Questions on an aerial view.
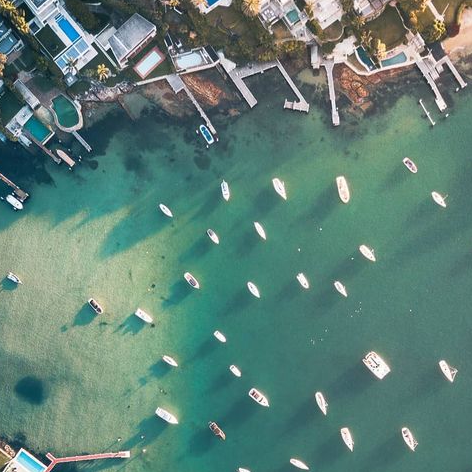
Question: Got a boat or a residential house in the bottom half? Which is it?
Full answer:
You can see a boat in the bottom half.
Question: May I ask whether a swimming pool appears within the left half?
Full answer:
Yes, the scene does show a swimming pool within the left half.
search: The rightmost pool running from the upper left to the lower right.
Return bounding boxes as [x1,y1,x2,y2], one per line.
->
[355,45,378,73]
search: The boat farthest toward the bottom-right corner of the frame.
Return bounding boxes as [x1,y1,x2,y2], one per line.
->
[402,427,417,452]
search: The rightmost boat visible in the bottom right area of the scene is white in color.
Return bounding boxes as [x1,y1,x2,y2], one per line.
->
[439,359,456,382]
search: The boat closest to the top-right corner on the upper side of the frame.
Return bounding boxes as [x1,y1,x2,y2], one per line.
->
[402,156,417,172]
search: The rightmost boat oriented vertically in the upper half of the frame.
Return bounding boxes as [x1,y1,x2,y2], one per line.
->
[336,173,349,202]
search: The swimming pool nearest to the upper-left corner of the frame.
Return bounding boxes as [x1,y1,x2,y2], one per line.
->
[48,4,85,49]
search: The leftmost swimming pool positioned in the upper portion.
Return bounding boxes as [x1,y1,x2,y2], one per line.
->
[24,113,55,145]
